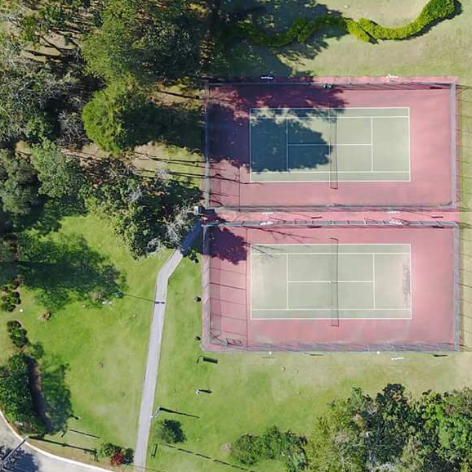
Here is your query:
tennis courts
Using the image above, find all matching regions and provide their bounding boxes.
[201,77,459,211]
[202,224,460,351]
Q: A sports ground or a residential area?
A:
sports ground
